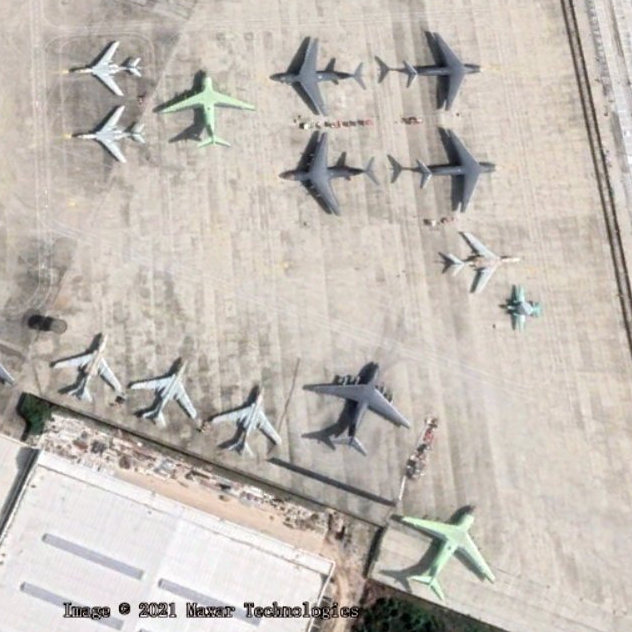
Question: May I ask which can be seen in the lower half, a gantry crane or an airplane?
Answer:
airplane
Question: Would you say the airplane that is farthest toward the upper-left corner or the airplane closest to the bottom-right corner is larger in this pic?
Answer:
the airplane closest to the bottom-right corner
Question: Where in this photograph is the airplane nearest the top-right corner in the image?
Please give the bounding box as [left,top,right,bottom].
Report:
[402,32,482,109]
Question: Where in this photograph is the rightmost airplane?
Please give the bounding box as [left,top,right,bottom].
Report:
[507,287,543,332]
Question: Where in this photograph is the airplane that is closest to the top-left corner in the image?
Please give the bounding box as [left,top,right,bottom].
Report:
[74,41,142,95]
